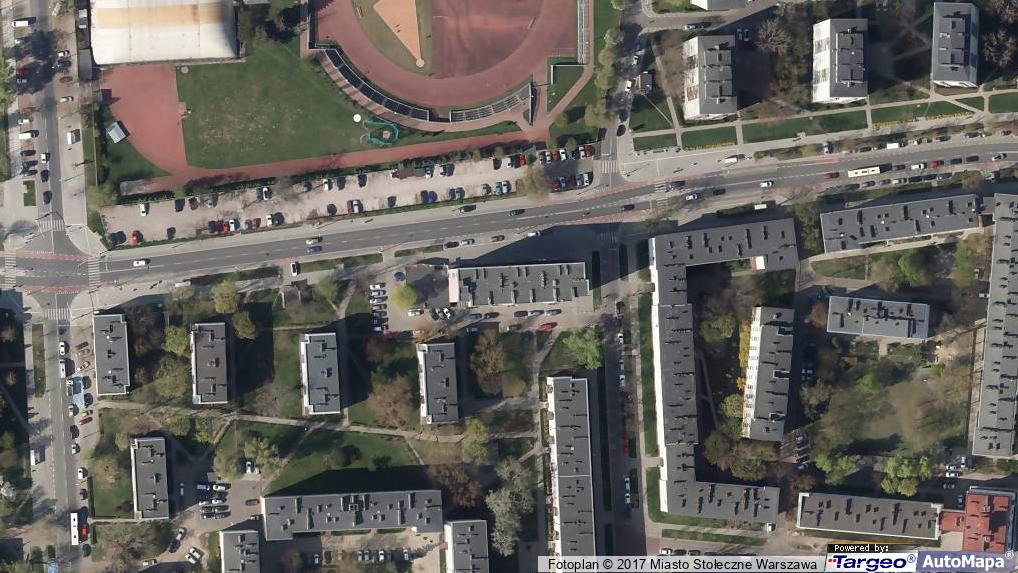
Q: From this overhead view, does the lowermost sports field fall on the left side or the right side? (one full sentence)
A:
You can find the lowermost sports field on the left side of the picture.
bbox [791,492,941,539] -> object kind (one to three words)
building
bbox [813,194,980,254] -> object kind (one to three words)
building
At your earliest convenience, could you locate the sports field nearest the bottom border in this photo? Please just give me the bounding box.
[178,57,521,168]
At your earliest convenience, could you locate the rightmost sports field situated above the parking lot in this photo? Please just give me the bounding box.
[431,0,543,80]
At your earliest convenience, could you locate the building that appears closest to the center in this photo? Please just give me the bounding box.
[447,263,590,308]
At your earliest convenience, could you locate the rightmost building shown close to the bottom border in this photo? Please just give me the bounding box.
[938,486,1016,573]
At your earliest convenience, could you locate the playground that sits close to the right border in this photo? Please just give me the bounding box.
[850,342,976,441]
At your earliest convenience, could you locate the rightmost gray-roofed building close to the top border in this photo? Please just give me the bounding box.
[920,2,973,88]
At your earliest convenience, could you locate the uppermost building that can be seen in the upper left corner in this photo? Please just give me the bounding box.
[89,0,237,62]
